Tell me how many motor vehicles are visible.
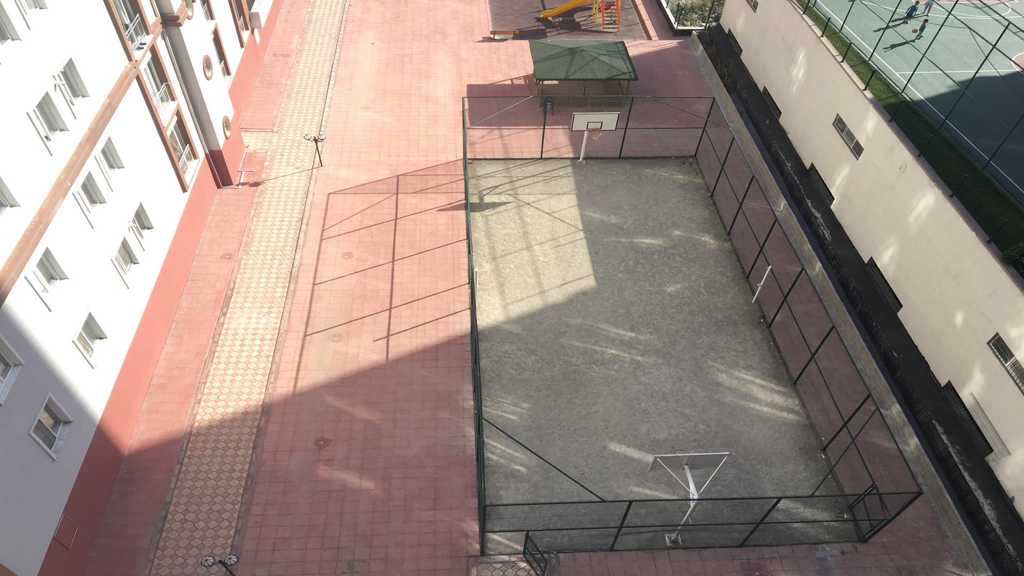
0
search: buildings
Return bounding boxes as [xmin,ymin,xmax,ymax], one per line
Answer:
[0,0,283,576]
[713,0,1024,576]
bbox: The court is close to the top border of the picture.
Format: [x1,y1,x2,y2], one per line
[804,0,1024,213]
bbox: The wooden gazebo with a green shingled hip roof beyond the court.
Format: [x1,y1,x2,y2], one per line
[527,40,638,107]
